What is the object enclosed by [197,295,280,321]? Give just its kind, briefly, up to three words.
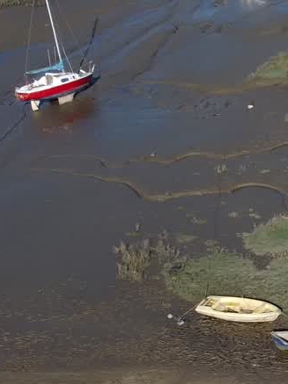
boat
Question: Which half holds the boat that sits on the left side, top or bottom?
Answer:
top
